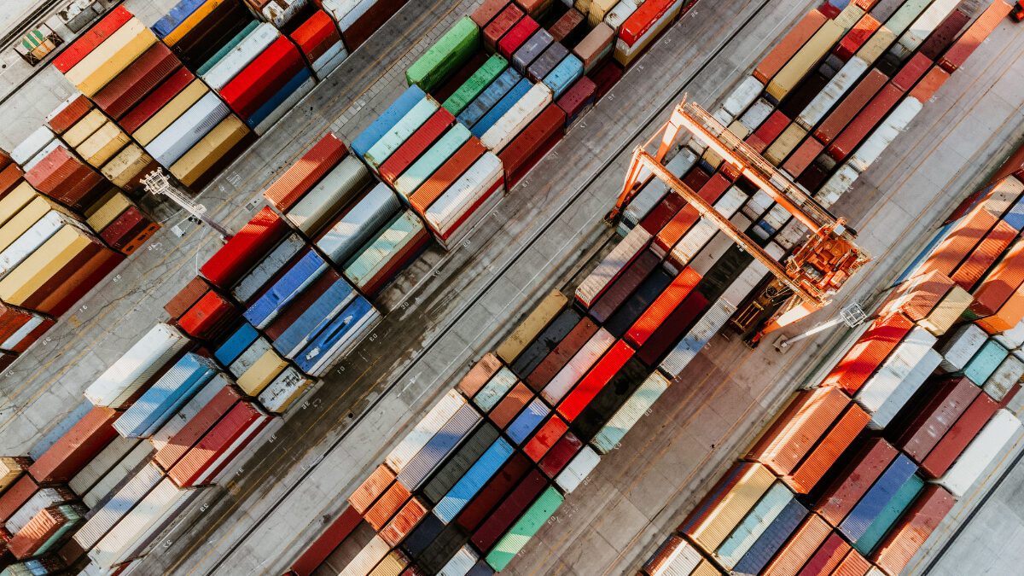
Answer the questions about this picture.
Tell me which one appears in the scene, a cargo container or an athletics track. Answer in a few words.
cargo container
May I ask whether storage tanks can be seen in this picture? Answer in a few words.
No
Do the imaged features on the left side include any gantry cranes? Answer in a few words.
No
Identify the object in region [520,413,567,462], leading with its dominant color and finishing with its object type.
red shipping container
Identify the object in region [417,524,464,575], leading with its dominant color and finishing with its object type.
black shipping container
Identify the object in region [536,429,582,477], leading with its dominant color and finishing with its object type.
red shipping container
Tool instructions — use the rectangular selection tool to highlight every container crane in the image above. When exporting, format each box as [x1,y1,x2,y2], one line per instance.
[602,84,882,356]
